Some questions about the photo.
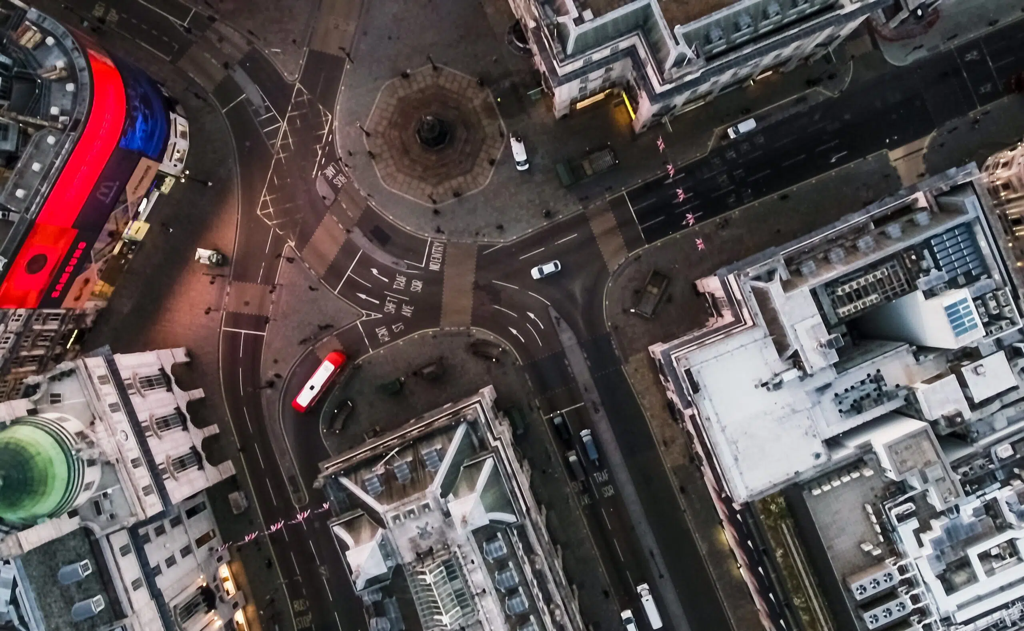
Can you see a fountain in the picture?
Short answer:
Yes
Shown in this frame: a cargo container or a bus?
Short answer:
bus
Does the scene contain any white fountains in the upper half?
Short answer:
No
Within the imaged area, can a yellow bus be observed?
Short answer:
No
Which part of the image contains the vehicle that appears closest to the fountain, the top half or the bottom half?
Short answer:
top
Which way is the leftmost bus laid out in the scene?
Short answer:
on a diagonal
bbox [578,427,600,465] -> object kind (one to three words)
truck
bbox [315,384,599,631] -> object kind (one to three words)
building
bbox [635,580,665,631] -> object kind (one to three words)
van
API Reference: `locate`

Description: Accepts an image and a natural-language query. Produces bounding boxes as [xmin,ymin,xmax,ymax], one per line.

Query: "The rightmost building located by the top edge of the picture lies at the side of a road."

[856,0,950,52]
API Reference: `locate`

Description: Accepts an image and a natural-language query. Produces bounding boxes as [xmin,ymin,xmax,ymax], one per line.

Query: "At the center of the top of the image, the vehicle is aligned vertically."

[510,135,530,173]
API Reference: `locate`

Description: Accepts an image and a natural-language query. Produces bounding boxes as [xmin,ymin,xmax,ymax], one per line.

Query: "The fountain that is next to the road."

[359,59,508,208]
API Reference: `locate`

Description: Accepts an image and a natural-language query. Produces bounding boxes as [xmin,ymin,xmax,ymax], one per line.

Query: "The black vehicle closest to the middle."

[549,409,571,443]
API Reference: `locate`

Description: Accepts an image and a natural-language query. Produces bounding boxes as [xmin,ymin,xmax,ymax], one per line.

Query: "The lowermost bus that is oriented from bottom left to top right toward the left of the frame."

[291,346,355,414]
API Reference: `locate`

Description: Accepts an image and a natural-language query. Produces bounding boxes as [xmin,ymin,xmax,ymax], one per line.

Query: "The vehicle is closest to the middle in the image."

[529,259,563,280]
